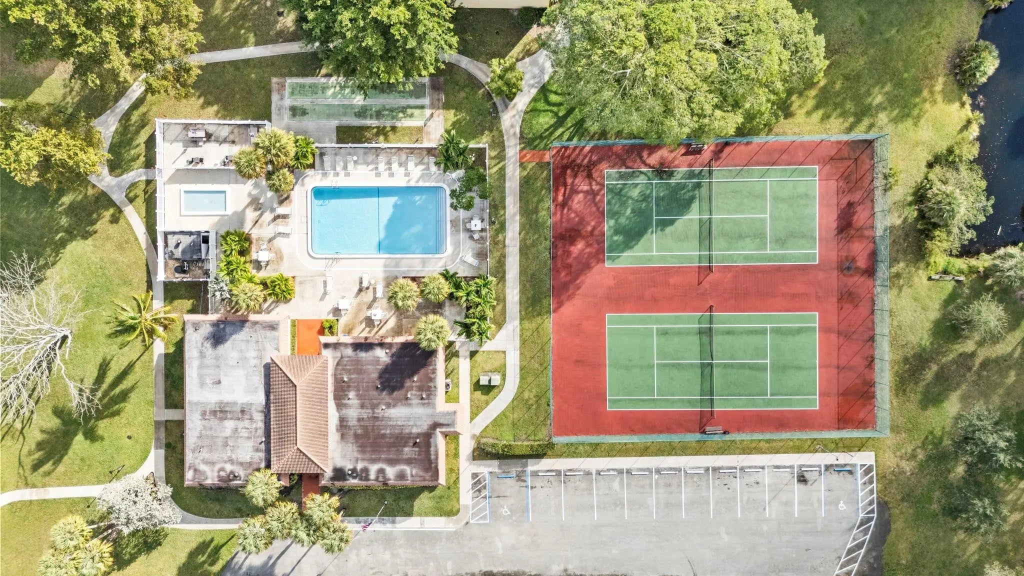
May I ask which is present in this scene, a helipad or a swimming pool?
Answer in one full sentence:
The image shows a swimming pool.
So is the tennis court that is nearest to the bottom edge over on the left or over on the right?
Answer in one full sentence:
The tennis court that is nearest to the bottom edge appears in the right half of the scene.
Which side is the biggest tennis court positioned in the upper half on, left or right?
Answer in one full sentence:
The biggest tennis court positioned in the upper half sits on the right side.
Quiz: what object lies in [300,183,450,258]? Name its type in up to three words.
swimming pool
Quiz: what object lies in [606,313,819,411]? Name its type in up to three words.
tennis court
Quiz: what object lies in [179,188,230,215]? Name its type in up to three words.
swimming pool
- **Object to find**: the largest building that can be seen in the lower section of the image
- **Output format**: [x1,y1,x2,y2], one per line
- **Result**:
[183,314,464,487]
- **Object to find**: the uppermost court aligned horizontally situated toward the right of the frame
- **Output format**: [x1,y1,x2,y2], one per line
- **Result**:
[605,166,819,266]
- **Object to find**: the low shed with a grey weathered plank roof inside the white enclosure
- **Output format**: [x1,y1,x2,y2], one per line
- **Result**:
[168,233,201,258]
